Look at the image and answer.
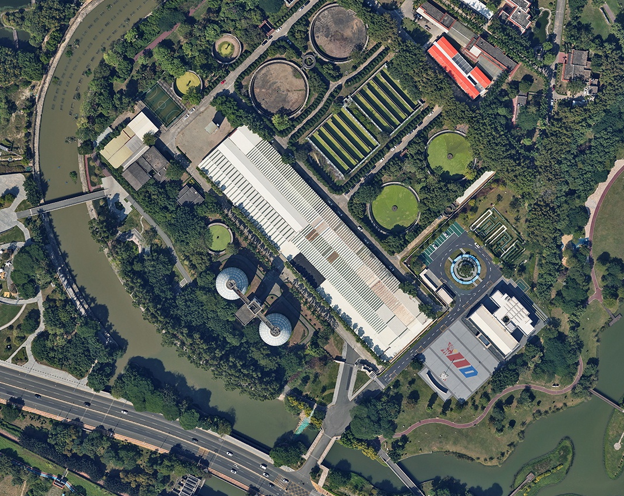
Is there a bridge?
Yes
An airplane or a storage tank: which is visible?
storage tank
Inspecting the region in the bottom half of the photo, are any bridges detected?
Yes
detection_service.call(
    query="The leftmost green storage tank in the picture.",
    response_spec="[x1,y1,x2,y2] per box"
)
[206,223,235,251]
